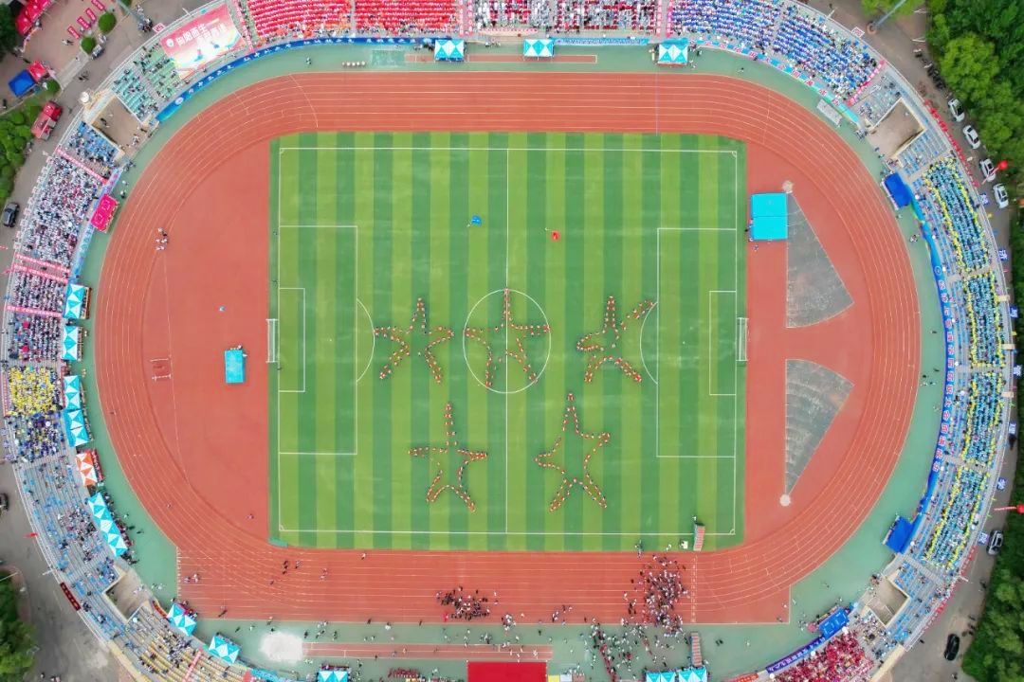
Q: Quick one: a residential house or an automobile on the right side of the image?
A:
automobile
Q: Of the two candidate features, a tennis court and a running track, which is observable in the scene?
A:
running track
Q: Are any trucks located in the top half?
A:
Yes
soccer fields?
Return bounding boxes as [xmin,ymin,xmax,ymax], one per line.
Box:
[271,131,746,550]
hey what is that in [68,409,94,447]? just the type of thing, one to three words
tent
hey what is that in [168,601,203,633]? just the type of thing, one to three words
tent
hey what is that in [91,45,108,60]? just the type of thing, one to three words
vehicle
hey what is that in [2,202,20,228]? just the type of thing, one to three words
car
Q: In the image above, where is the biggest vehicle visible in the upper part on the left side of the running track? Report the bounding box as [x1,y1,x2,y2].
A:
[27,99,65,141]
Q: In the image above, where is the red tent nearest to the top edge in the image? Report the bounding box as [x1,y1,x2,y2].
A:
[15,0,55,37]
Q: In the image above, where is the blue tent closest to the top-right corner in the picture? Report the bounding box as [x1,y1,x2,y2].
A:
[881,173,911,208]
